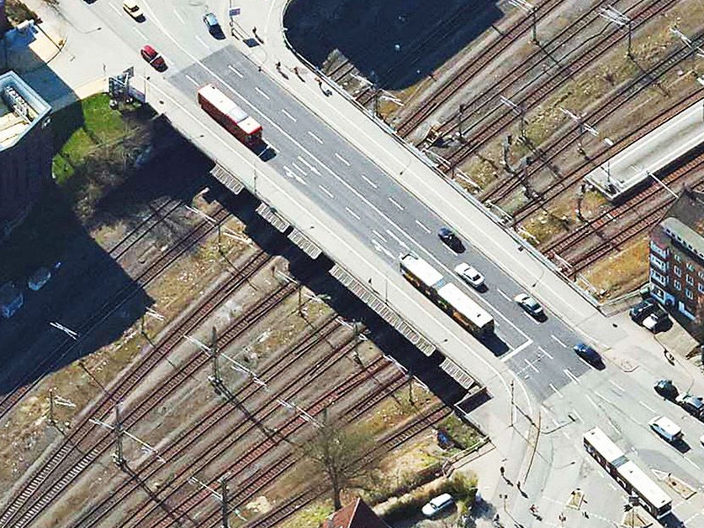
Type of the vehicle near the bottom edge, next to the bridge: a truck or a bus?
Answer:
bus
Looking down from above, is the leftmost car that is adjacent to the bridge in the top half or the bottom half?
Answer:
top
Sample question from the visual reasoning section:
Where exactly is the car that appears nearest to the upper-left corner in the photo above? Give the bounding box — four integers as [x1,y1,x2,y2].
[121,0,147,20]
